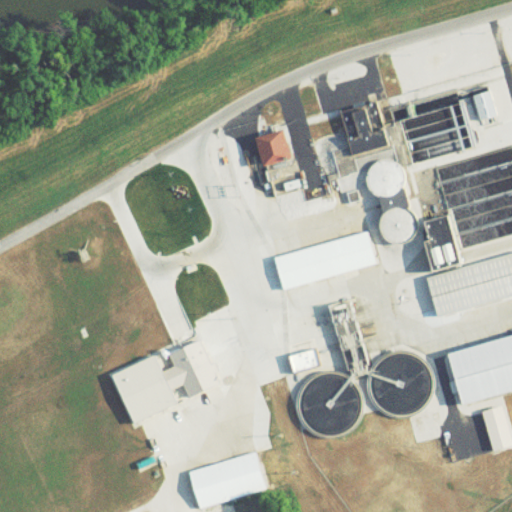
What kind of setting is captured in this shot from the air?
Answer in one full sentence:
The picture captures an industrial area.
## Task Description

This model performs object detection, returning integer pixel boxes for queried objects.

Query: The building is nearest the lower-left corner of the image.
[111,354,179,424]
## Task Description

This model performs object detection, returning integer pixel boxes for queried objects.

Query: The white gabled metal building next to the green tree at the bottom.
[190,452,268,509]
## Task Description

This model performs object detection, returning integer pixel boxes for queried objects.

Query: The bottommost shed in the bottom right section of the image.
[483,406,512,452]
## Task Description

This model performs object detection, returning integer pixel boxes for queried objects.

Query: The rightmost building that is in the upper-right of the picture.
[474,91,498,120]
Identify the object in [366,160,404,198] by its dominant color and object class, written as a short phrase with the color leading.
white storage tank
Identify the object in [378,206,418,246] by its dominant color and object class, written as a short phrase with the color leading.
white storage tank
